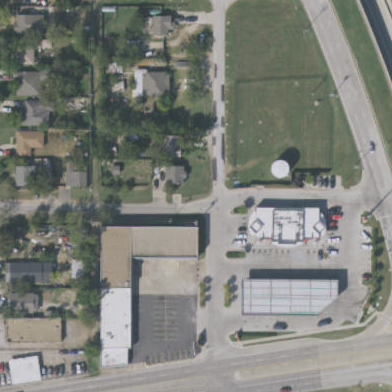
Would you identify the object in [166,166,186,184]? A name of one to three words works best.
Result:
house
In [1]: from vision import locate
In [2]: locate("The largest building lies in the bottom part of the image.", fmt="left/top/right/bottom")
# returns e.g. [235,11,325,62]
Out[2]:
[100,226,198,368]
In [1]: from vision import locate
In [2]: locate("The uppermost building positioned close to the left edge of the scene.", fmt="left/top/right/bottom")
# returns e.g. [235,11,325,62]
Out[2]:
[14,14,44,32]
